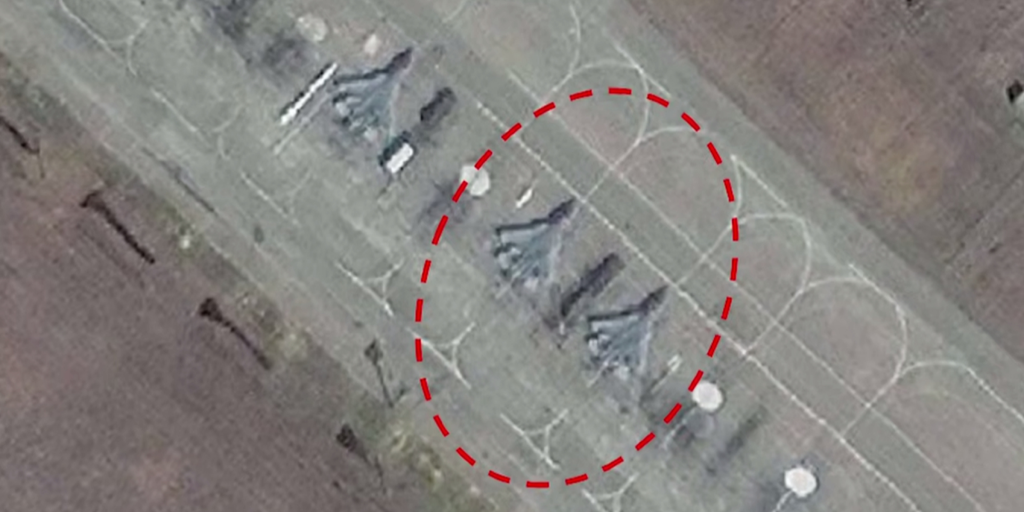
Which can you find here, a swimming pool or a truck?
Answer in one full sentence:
The one in the frame is a truck.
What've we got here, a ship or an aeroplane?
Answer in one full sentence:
The image shows an aeroplane.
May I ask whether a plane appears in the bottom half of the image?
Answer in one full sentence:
Yes, a plane shows up in the bottom half of the image.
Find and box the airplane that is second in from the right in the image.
[494,202,579,293]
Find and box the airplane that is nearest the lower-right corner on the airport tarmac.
[586,293,670,381]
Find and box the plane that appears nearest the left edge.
[333,55,416,147]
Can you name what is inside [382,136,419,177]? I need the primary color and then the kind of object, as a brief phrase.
white truck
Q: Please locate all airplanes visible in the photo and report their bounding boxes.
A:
[586,293,670,381]
[333,55,416,147]
[494,202,579,293]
